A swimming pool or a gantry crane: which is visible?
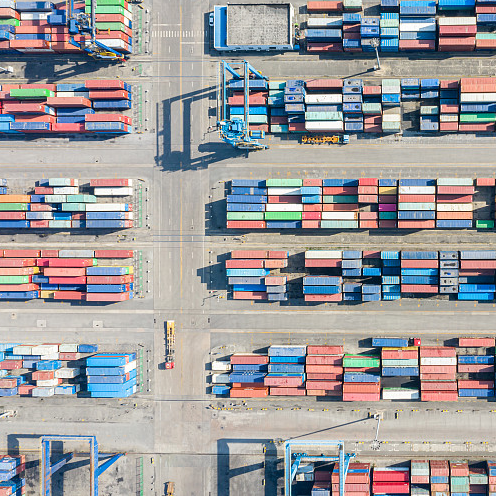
gantry crane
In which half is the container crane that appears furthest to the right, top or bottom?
bottom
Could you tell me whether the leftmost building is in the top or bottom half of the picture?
top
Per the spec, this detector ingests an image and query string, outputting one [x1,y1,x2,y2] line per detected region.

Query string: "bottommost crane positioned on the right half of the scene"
[284,438,356,496]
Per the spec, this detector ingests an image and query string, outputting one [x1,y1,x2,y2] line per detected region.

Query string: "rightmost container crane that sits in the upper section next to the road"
[219,59,271,154]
